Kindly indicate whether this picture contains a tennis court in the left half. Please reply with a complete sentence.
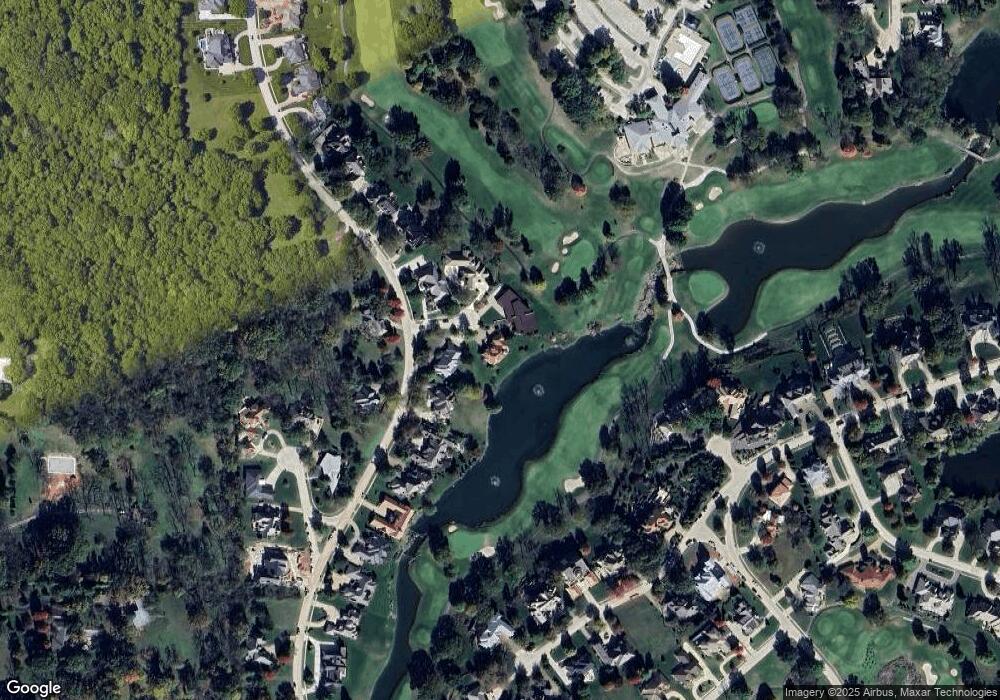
No, looking in the left half, there is no tennis court.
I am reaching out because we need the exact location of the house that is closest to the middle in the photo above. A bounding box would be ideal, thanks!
[480,335,511,367]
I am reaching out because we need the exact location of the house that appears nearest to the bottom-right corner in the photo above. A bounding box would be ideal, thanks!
[964,599,1000,637]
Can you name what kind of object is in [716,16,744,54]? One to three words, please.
tennis court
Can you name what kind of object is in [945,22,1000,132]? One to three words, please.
pond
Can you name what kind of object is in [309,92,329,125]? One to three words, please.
house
